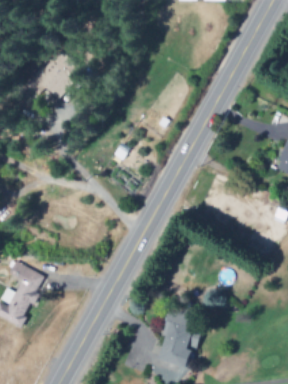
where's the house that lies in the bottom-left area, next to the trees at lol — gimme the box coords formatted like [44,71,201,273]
[0,262,46,326]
